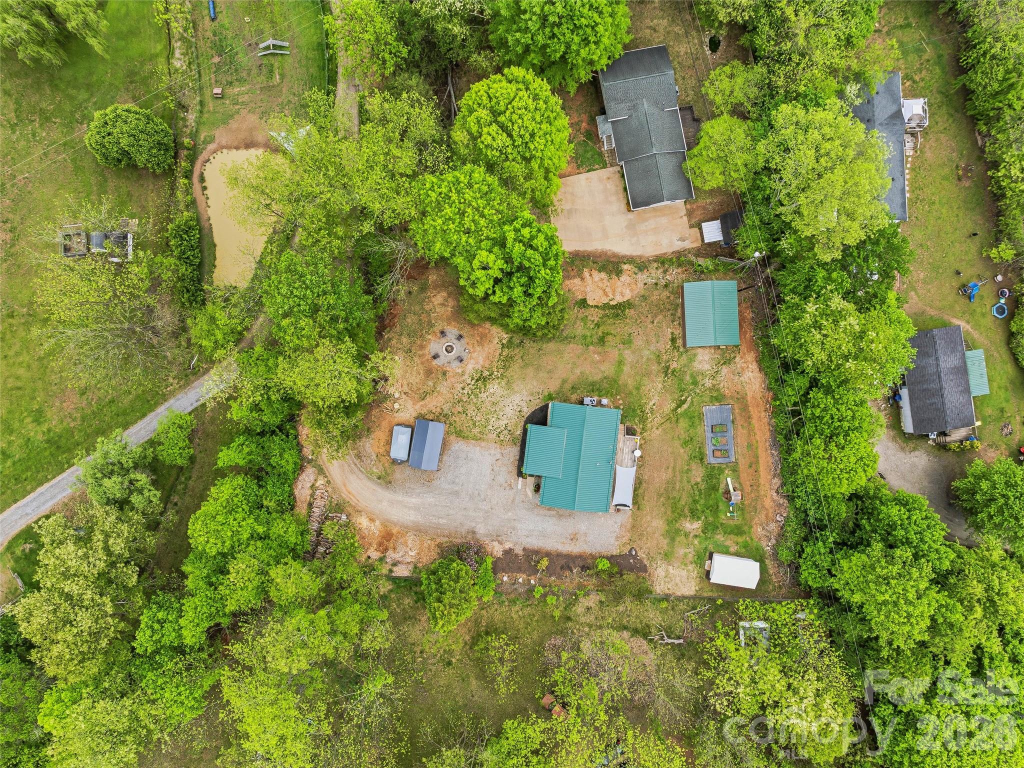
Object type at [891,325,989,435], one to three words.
house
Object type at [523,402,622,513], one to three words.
house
